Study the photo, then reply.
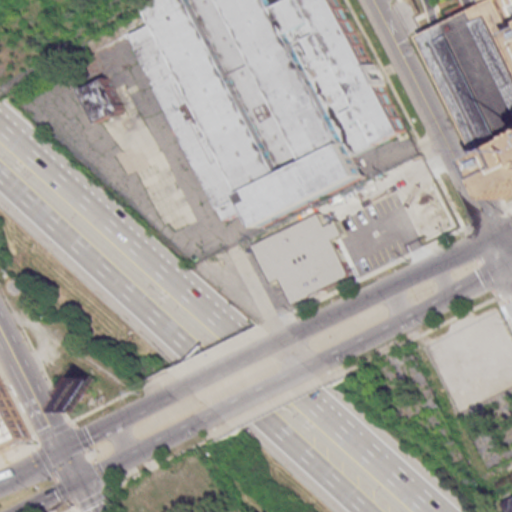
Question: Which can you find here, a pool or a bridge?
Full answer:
It is a bridge that can be seen here.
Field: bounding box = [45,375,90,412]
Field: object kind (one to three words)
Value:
house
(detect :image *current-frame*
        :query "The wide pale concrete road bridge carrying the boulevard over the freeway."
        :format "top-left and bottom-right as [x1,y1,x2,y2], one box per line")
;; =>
[146,316,342,438]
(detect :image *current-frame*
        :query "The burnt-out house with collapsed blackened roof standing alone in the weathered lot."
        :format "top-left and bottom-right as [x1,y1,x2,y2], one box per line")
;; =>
[78,76,120,122]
